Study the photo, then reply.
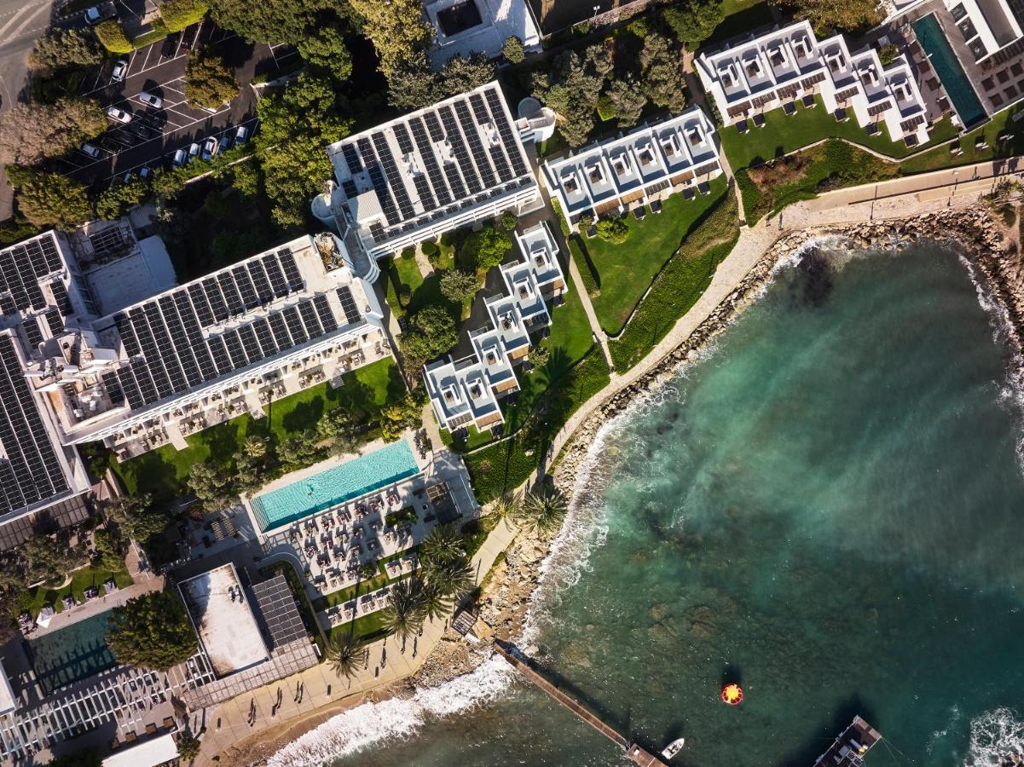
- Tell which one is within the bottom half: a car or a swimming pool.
swimming pool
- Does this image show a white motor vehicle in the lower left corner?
No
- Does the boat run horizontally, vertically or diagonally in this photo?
diagonally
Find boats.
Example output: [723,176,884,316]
[661,738,685,761]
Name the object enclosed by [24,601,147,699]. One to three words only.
swimming pool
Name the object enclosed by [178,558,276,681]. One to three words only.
building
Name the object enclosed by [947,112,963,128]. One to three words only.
umbrella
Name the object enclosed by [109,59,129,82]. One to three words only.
car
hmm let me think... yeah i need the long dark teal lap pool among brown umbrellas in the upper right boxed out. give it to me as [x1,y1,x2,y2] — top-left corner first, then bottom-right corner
[909,9,992,132]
